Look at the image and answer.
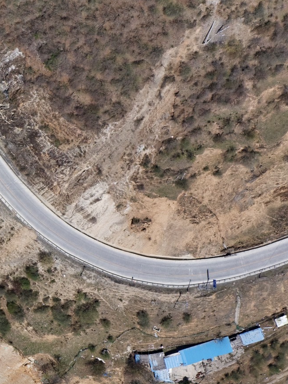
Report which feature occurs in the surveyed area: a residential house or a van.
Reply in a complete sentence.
The one in the frame is a residential house.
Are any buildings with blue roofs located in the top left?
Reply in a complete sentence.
No, no building with a blue roof can be made out in the top left.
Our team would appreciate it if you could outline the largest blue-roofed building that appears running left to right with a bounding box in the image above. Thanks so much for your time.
[174,337,233,366]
